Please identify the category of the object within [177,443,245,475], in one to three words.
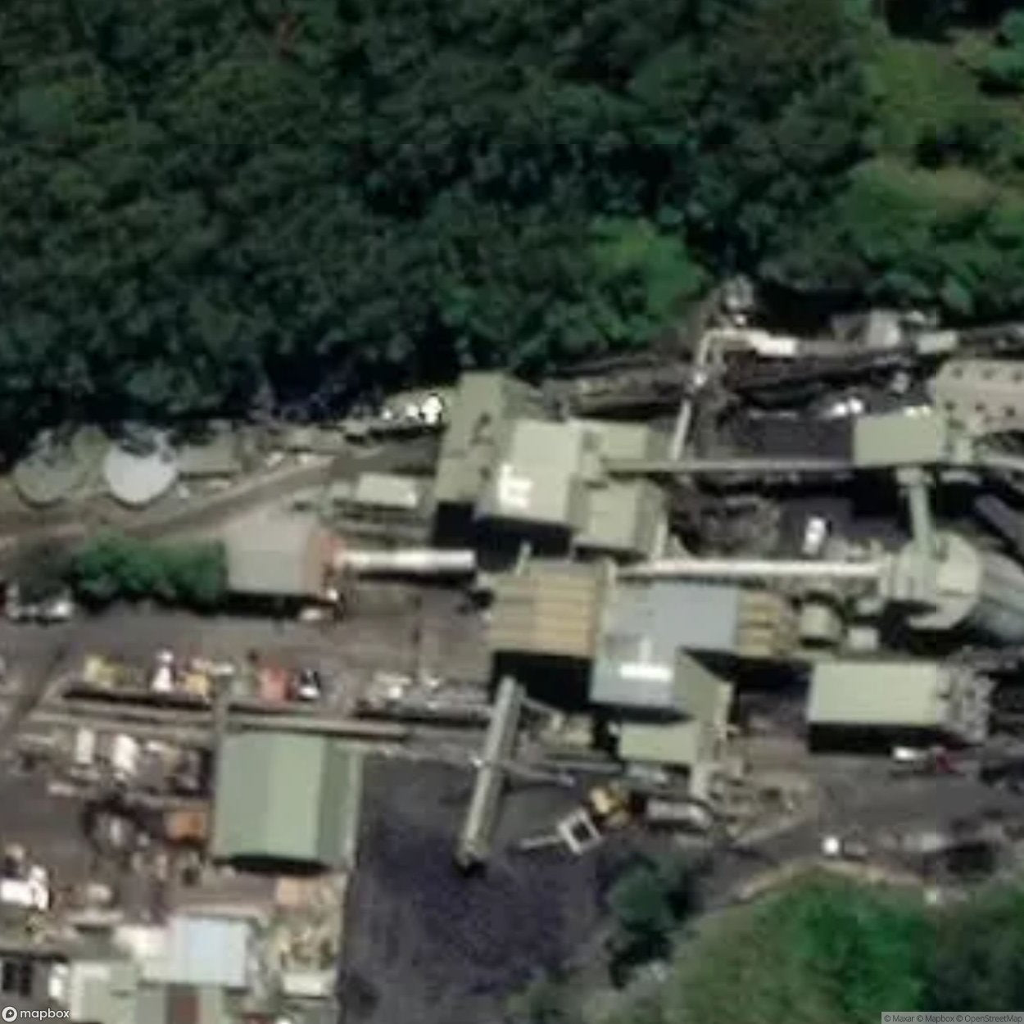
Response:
building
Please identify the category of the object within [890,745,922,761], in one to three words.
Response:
car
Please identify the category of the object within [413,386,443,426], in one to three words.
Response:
truck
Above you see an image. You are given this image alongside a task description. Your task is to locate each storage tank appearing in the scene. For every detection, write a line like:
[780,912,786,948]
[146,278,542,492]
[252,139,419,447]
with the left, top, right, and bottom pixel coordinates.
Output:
[13,437,91,512]
[104,432,182,506]
[812,603,850,646]
[70,426,116,473]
